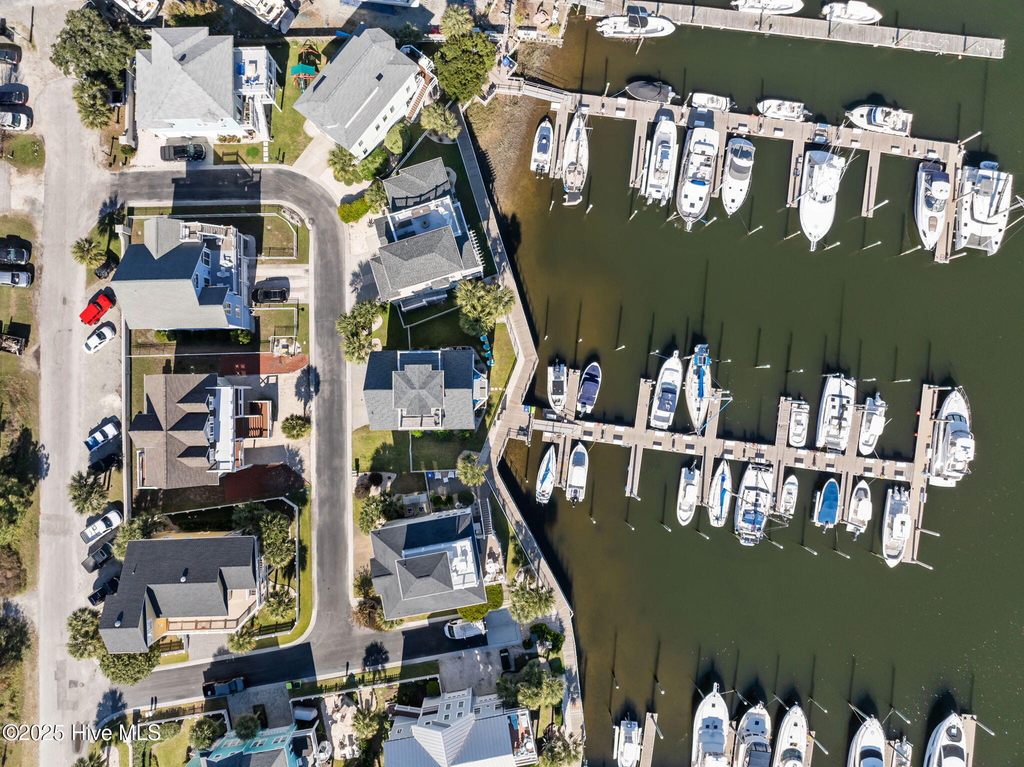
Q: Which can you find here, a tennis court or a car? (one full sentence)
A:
It is a car that can be seen here.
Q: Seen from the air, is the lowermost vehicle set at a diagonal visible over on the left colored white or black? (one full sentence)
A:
The lowermost vehicle set at a diagonal visible over on the left is black.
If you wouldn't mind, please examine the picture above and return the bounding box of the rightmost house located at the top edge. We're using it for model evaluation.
[292,22,441,163]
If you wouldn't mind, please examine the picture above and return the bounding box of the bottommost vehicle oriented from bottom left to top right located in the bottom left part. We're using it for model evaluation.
[84,576,116,608]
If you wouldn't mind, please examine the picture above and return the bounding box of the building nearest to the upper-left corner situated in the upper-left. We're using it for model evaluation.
[135,26,280,144]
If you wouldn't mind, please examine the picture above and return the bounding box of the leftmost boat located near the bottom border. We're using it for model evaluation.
[612,706,643,767]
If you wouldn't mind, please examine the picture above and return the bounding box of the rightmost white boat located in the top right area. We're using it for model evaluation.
[951,158,1024,255]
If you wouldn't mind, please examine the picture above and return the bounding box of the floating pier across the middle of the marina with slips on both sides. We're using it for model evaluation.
[542,370,939,564]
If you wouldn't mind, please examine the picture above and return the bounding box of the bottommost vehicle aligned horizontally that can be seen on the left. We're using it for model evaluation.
[202,673,247,698]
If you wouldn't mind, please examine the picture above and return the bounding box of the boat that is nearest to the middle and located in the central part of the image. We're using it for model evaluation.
[548,355,569,411]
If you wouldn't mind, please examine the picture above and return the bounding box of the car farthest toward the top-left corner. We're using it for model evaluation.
[0,47,23,68]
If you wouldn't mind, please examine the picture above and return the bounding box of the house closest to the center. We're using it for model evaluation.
[363,350,489,430]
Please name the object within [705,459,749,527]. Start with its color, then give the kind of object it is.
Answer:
white boat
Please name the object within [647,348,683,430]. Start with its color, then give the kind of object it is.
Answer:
white boat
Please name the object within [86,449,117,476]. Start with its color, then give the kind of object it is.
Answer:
black car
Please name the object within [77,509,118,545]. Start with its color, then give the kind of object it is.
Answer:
white vehicle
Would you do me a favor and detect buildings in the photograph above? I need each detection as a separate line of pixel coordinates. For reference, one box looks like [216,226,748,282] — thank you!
[135,26,280,144]
[128,374,276,490]
[383,687,538,767]
[363,350,489,430]
[369,499,507,621]
[292,22,441,163]
[104,218,250,330]
[369,157,486,312]
[197,709,336,767]
[100,533,279,654]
